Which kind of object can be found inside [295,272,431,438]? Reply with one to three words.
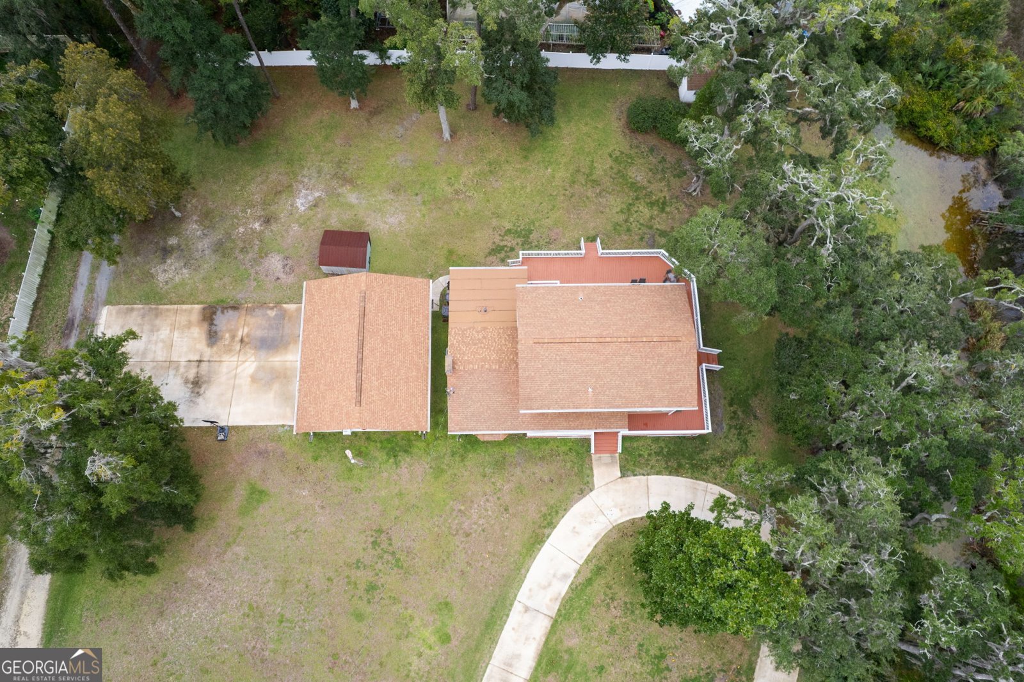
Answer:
building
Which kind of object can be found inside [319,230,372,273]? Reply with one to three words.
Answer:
shed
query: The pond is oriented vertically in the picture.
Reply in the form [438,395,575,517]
[864,119,1024,659]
